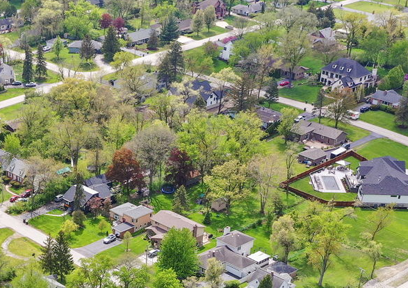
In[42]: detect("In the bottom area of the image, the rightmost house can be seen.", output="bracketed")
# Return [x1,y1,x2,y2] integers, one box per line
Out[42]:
[339,156,408,206]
